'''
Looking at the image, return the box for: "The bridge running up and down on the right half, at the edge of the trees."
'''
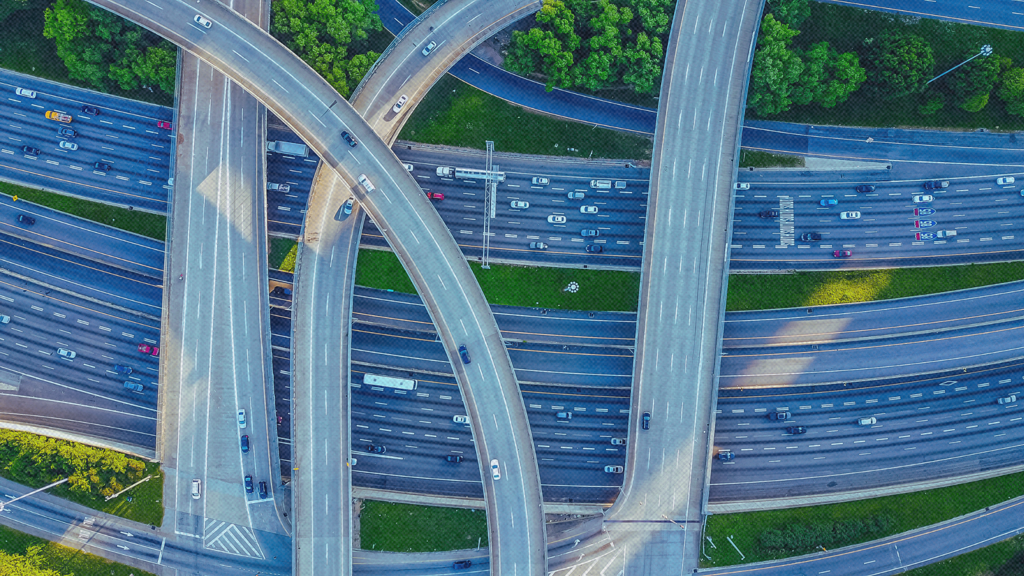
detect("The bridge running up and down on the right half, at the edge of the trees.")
[603,0,765,522]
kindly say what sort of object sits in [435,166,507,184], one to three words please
vehicle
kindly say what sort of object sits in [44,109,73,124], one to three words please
vehicle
